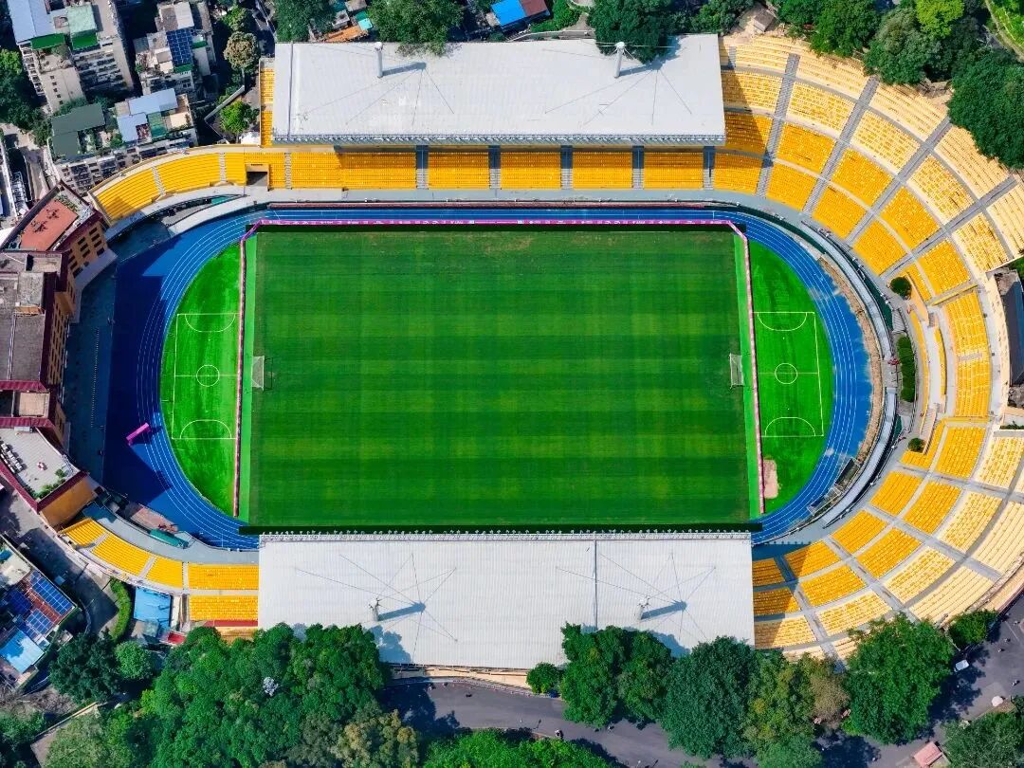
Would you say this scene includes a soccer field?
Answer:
Yes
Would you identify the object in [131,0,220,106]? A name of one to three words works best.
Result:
building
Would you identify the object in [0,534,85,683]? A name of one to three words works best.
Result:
house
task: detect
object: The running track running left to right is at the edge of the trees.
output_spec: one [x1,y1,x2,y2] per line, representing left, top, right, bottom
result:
[102,207,873,550]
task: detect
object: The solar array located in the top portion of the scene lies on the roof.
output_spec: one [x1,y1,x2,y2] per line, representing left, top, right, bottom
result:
[166,28,194,67]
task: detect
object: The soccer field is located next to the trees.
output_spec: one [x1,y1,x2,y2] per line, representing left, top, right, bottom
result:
[238,224,762,534]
